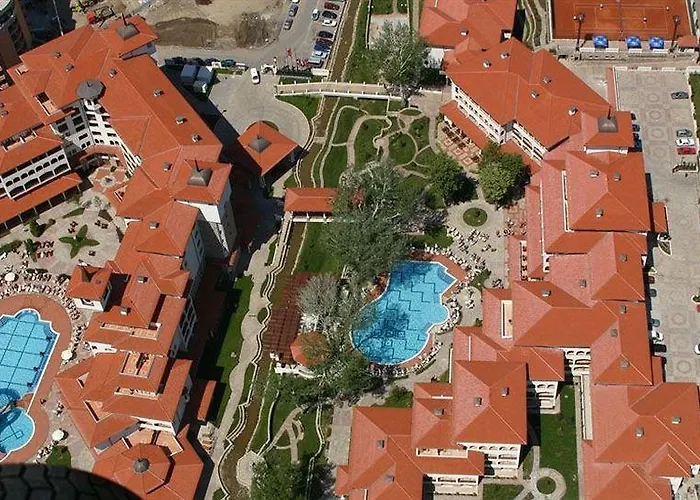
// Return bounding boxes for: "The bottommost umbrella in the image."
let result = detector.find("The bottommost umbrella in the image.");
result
[48,429,65,444]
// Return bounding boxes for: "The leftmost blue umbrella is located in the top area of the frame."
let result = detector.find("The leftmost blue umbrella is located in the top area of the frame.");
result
[593,36,610,49]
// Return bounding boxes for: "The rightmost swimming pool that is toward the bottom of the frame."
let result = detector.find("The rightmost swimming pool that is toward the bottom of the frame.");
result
[349,260,458,365]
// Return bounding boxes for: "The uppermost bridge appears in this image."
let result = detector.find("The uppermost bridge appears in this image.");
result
[273,80,404,104]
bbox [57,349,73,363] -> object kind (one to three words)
umbrella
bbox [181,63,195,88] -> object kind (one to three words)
vehicle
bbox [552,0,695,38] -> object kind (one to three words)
tennis court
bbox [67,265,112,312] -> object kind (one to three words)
building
